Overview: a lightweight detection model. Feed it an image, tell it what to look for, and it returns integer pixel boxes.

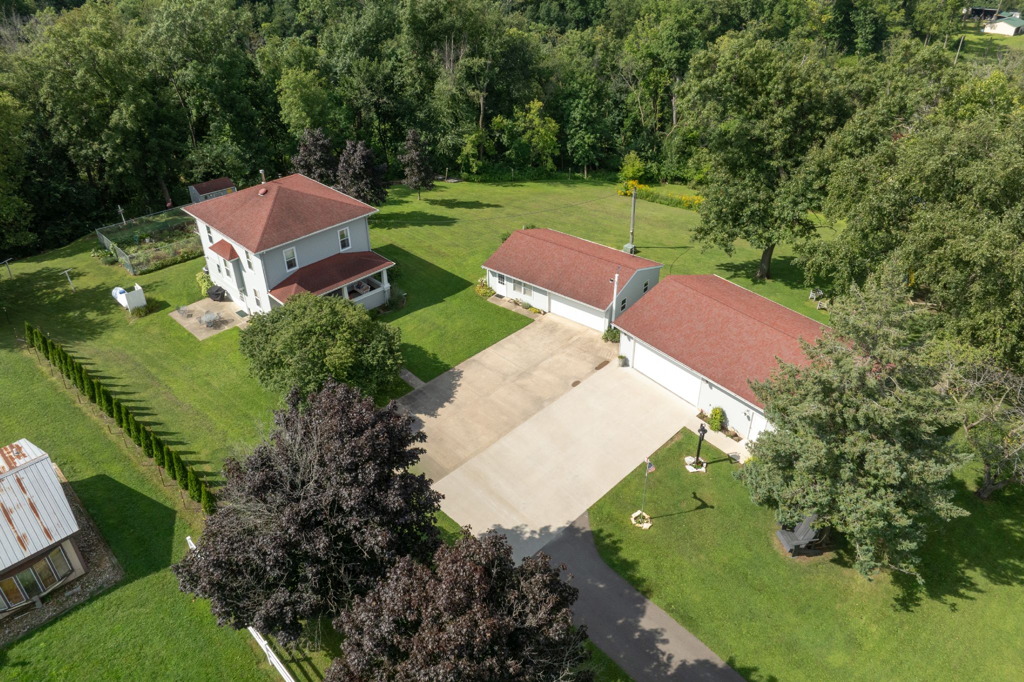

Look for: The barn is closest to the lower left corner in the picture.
[0,438,88,623]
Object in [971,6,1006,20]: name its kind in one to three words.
shed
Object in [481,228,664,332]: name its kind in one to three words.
building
